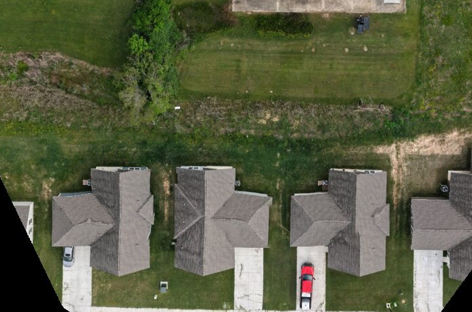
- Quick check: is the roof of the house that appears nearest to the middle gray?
Yes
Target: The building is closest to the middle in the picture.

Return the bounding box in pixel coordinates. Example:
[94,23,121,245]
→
[174,165,271,274]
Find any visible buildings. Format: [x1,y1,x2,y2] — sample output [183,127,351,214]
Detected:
[174,165,271,274]
[14,198,32,241]
[52,165,152,274]
[412,147,472,285]
[290,167,389,274]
